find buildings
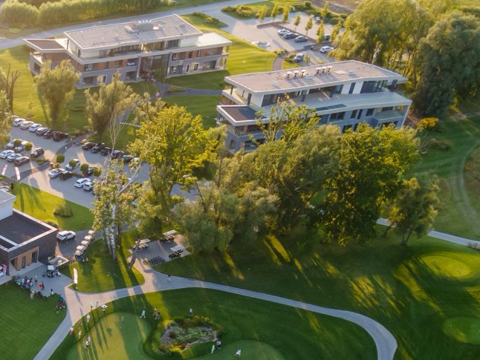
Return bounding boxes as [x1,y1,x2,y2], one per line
[216,61,411,146]
[22,15,230,85]
[0,191,57,277]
